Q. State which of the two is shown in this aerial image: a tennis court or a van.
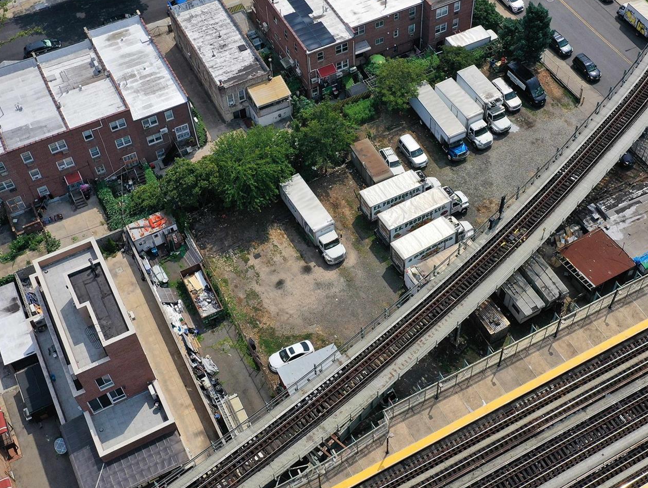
van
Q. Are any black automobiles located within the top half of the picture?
Yes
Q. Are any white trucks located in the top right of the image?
Yes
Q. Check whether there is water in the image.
No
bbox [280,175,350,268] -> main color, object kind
white truck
